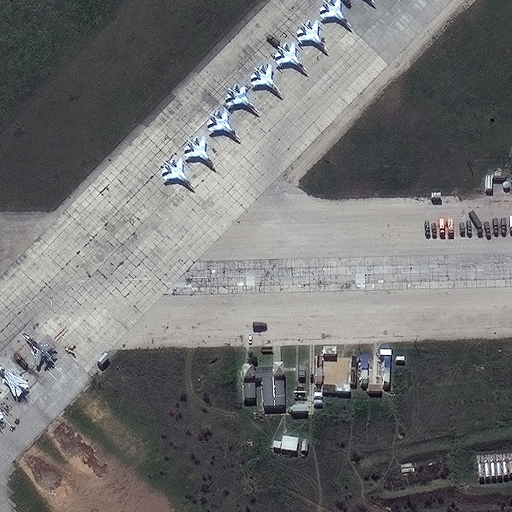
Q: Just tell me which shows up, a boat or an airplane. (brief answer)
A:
airplane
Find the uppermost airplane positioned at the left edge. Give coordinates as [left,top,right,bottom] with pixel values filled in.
[25,336,60,371]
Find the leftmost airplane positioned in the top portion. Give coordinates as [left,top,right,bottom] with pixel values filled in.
[160,157,195,191]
